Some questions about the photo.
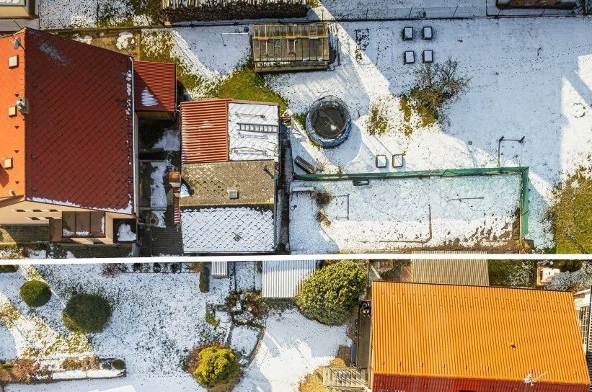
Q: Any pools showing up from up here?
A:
No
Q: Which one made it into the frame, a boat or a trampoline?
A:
trampoline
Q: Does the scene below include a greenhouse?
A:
Yes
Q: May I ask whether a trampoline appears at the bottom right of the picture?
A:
No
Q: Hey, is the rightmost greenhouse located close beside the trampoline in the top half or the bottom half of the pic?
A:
top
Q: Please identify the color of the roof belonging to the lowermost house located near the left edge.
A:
red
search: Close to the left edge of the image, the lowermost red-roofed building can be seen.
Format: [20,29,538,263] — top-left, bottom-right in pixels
[0,25,156,251]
